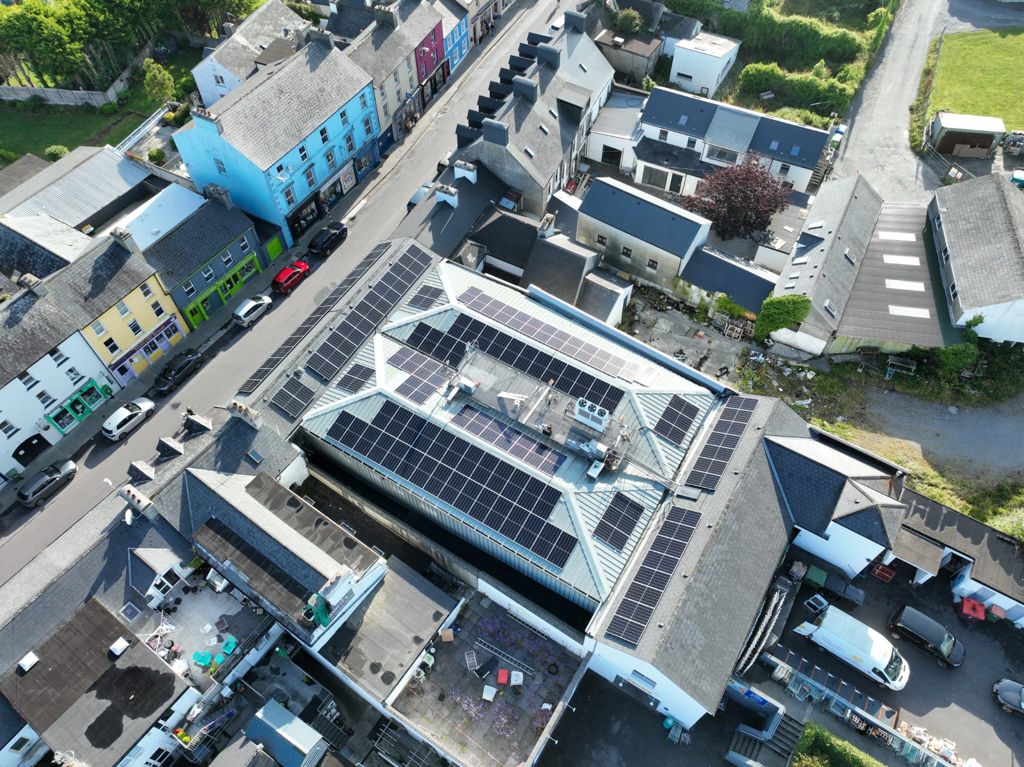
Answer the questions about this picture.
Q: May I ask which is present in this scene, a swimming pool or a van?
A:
van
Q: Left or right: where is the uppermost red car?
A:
left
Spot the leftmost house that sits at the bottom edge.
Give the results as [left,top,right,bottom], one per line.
[0,488,214,767]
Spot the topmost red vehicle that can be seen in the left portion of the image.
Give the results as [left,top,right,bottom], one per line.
[268,262,312,299]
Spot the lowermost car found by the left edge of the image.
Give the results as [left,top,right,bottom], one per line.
[10,458,81,515]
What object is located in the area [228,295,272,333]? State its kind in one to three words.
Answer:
car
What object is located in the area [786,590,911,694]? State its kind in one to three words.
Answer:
van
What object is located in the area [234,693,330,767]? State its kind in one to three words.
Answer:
shed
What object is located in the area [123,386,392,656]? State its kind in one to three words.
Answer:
house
